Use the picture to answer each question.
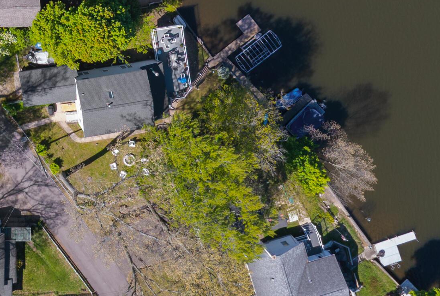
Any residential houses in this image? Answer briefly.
Yes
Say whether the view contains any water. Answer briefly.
Yes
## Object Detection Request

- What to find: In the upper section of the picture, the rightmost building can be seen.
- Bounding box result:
[72,61,164,137]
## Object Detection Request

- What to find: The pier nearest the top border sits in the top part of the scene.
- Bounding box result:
[205,31,261,68]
